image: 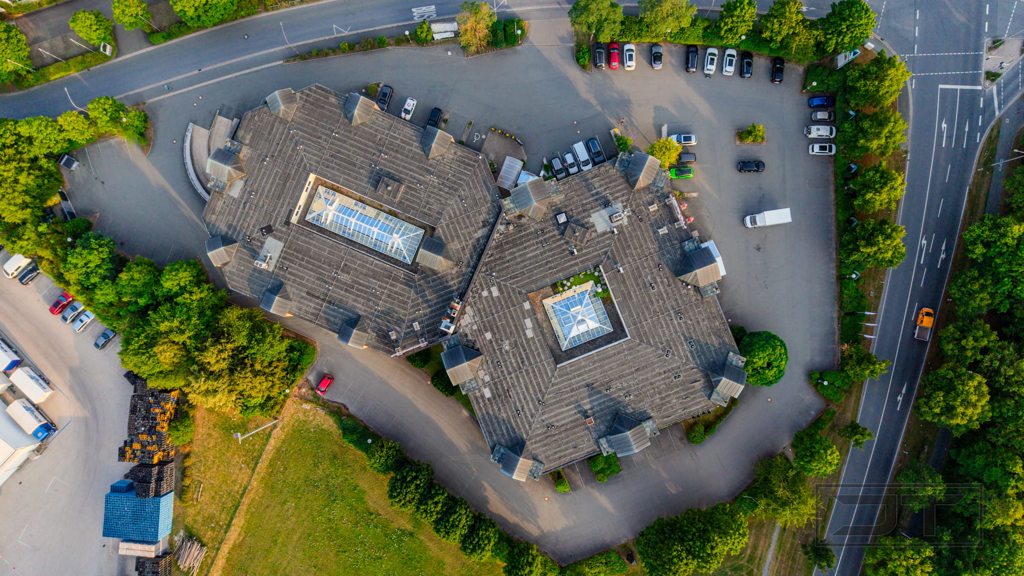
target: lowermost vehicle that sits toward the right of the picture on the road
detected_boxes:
[913,306,937,342]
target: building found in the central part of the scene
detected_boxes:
[201,82,747,482]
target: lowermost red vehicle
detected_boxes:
[315,372,335,397]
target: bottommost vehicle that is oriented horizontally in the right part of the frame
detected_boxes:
[742,208,794,227]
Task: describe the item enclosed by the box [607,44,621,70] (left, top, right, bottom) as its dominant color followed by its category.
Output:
red car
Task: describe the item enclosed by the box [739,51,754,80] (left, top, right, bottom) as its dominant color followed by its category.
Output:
black car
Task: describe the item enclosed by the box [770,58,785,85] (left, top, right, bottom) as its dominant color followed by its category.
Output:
black car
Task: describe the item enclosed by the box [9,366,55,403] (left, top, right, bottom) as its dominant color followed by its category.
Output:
white truck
